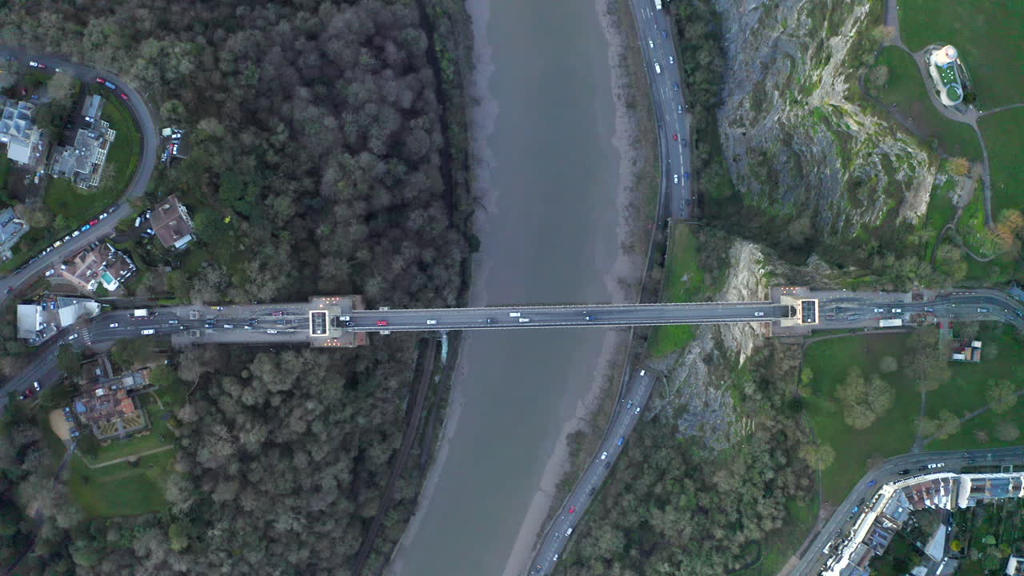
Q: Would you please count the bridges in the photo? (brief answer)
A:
one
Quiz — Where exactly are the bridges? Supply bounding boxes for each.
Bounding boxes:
[201,285,917,349]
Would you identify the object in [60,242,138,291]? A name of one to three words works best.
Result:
house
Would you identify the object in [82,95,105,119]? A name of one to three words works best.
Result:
building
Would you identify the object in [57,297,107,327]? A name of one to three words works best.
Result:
building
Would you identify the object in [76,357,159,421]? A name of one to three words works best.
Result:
house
